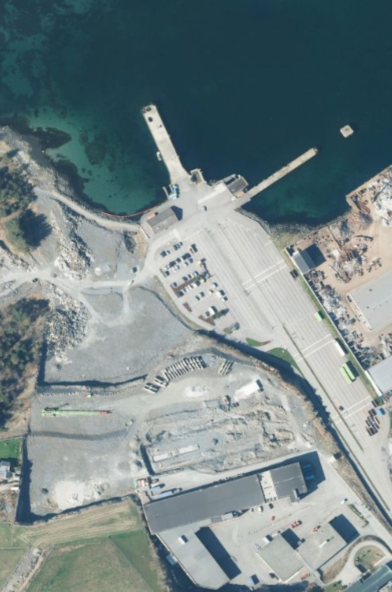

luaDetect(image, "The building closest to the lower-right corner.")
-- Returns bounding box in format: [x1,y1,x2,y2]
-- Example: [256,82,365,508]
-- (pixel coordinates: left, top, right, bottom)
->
[347,567,392,592]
